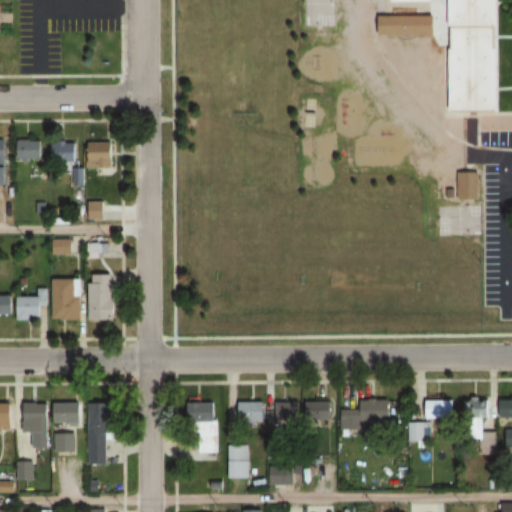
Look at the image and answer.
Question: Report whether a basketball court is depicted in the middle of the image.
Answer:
No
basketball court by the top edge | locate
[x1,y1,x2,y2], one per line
[306,0,336,27]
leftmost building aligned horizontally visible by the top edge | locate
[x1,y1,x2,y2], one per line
[378,14,432,36]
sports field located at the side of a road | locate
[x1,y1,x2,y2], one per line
[178,0,482,336]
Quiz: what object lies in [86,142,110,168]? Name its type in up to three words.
house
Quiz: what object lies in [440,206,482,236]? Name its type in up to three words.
basketball court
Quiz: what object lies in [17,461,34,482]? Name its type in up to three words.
building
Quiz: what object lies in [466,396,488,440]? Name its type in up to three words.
house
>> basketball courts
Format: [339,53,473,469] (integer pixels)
[440,206,482,236]
[306,0,336,27]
